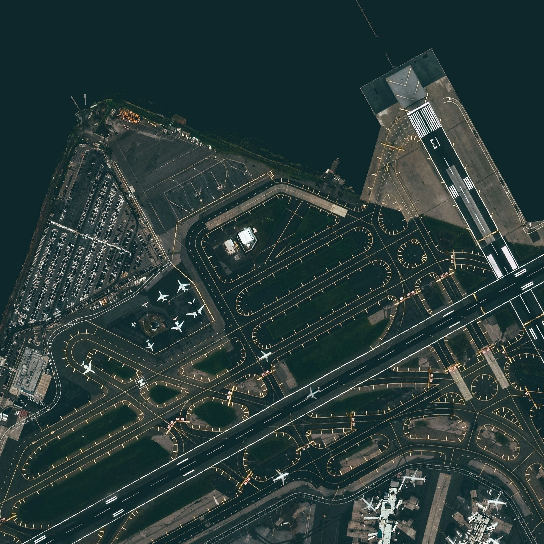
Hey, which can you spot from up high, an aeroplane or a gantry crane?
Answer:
aeroplane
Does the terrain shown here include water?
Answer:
Yes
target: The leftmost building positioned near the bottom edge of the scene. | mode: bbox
[364,477,405,544]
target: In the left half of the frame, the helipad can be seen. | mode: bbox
[135,376,147,389]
